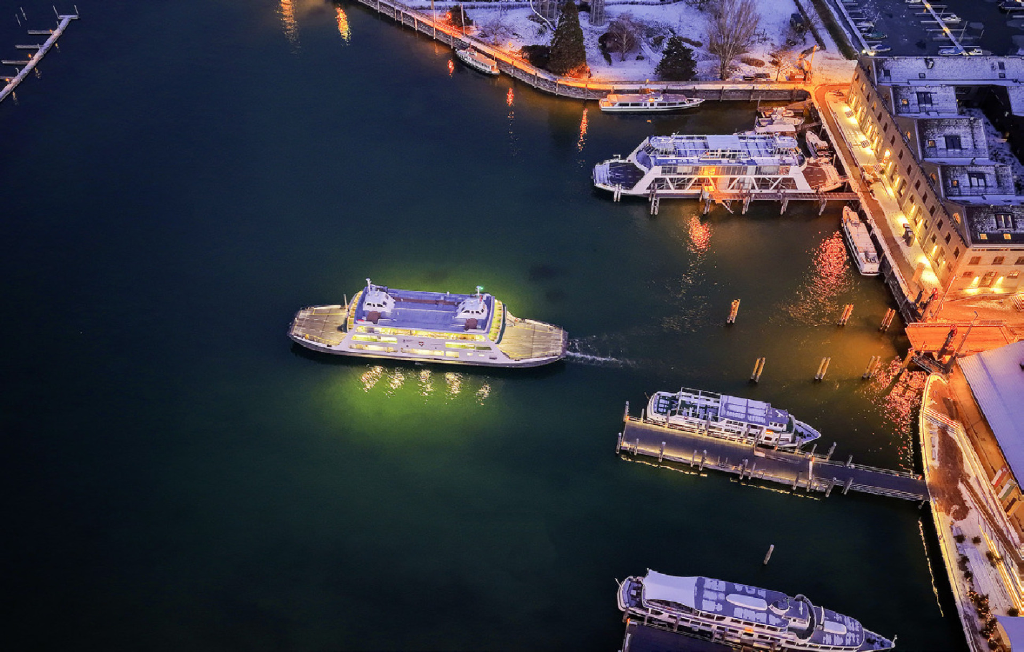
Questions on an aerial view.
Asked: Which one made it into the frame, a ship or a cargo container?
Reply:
ship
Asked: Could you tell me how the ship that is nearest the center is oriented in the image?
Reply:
from side to side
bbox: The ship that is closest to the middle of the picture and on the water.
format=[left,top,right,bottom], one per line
[286,278,571,373]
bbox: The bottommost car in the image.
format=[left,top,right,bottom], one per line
[902,226,916,239]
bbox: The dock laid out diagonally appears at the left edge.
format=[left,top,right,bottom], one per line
[0,15,80,104]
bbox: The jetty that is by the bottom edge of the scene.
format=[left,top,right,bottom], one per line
[624,617,773,652]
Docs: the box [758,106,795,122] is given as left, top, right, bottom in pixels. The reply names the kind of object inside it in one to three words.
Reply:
boat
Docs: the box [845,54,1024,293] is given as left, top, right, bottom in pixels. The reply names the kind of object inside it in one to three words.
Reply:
warehouse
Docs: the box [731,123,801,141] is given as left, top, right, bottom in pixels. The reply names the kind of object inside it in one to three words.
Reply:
boat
